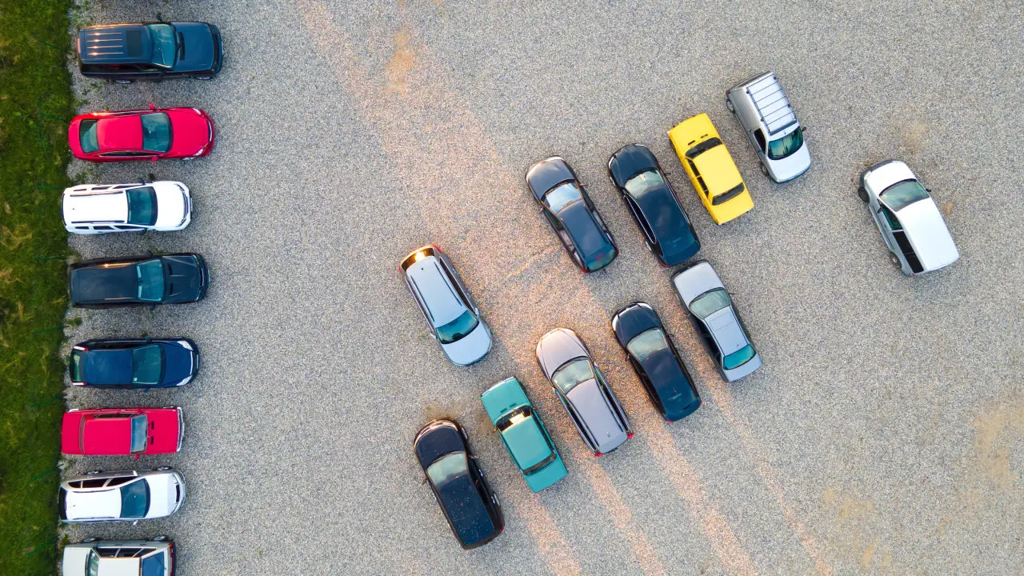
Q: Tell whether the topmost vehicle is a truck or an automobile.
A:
automobile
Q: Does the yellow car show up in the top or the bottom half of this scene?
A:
top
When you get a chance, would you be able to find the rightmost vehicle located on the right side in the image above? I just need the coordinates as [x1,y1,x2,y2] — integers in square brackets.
[858,163,961,276]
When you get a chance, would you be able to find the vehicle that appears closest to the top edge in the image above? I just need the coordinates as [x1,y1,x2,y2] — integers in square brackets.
[80,14,225,83]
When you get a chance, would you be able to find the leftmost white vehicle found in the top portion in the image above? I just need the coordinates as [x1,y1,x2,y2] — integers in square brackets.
[63,177,194,235]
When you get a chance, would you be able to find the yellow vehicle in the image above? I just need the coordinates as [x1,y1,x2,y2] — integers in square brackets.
[665,110,755,226]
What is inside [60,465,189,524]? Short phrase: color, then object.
white car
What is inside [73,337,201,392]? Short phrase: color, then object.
blue car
